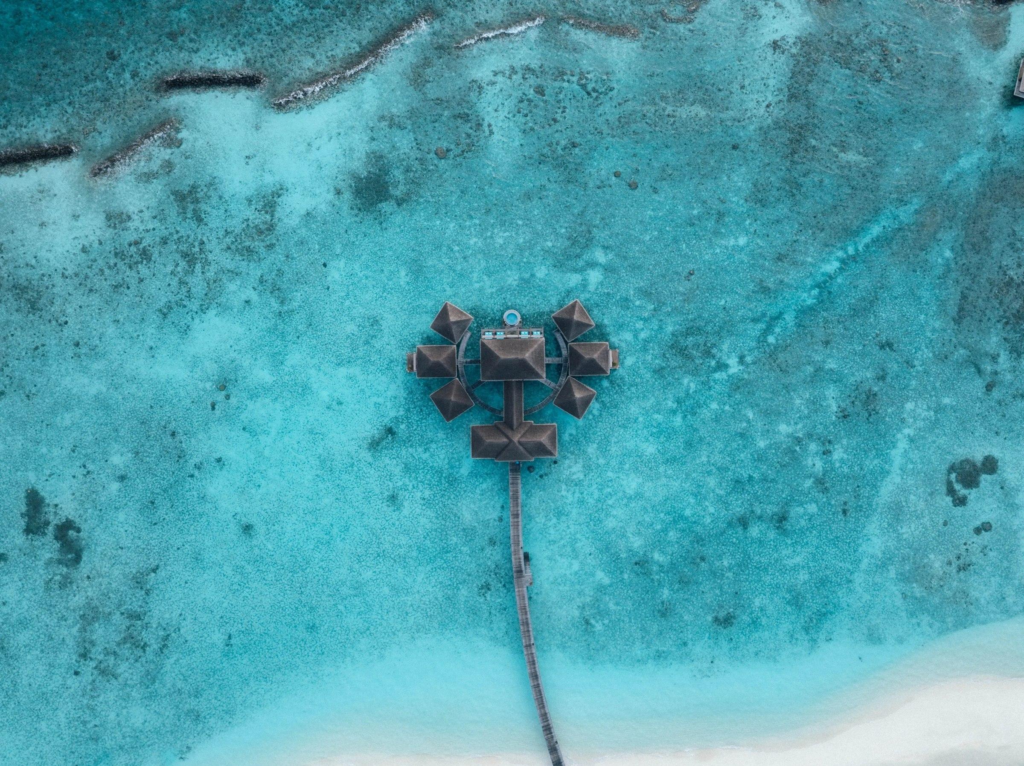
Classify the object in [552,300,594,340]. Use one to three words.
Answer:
shed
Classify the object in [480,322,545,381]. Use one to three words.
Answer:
building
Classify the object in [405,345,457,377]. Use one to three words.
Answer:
shed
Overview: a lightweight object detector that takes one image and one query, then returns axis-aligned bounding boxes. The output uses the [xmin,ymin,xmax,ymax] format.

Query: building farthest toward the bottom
[471,421,557,461]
